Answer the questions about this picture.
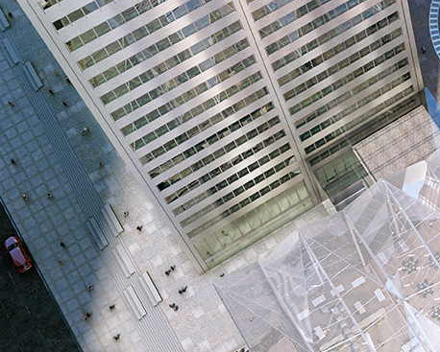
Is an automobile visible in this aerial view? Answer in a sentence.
Yes, there is an automobile in the image.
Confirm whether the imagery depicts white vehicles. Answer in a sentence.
No, there isn't any white vehicle down there.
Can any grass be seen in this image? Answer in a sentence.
No, the picture contains no grass.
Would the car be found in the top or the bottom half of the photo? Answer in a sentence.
The car is in the bottom half of the image.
